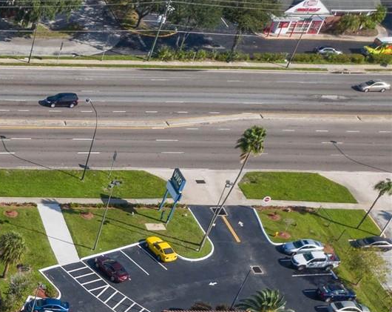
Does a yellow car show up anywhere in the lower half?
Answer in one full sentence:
Yes, a yellow car appears in the lower half.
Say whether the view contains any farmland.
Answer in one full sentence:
No, the picture contains no farmland.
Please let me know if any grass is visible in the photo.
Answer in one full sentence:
Yes, grass can be seen from above here.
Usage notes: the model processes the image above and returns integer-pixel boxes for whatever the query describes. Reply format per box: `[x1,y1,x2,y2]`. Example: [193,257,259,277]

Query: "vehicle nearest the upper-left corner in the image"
[43,91,79,107]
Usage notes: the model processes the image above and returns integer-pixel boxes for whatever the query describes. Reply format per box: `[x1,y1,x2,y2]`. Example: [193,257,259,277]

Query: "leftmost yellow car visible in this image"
[142,233,184,258]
